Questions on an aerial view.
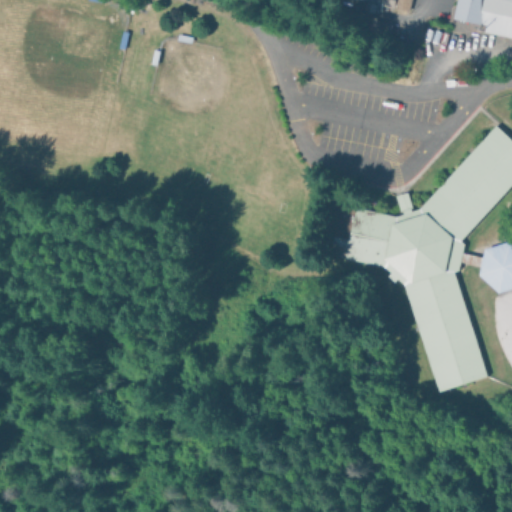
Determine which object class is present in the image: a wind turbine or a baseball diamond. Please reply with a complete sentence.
There is a baseball diamond in the scene.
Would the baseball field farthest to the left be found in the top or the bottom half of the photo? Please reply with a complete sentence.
The baseball field farthest to the left is in the top half of the image.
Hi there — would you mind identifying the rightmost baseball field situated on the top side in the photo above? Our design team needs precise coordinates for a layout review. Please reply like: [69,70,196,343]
[156,40,230,112]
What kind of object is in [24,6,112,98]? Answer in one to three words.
baseball field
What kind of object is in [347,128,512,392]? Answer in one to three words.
building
